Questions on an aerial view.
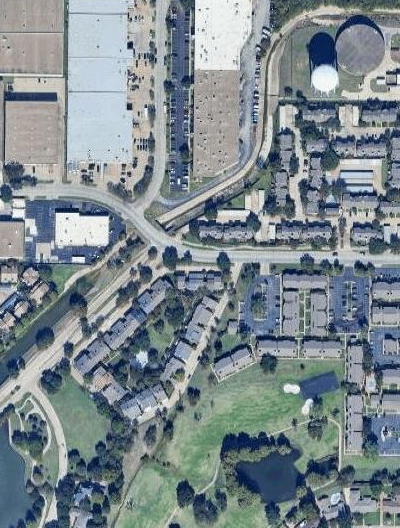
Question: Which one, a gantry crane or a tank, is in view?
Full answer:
There is a tank in the scene.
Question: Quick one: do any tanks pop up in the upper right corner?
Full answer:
Yes, a tank shows up in the upper right corner.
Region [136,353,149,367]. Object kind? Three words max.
swimming pool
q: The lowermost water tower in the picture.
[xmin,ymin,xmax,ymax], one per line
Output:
[310,65,338,100]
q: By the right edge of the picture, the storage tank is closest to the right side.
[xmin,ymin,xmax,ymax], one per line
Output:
[335,26,384,76]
